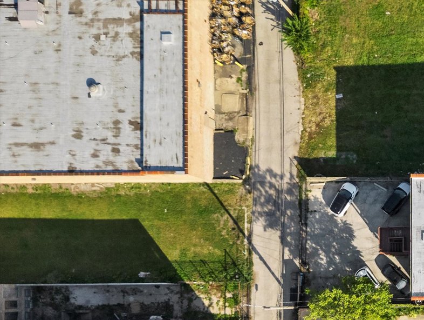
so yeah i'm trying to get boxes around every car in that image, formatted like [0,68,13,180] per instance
[380,179,411,218]
[329,180,360,218]
[352,259,386,296]
[376,256,410,293]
